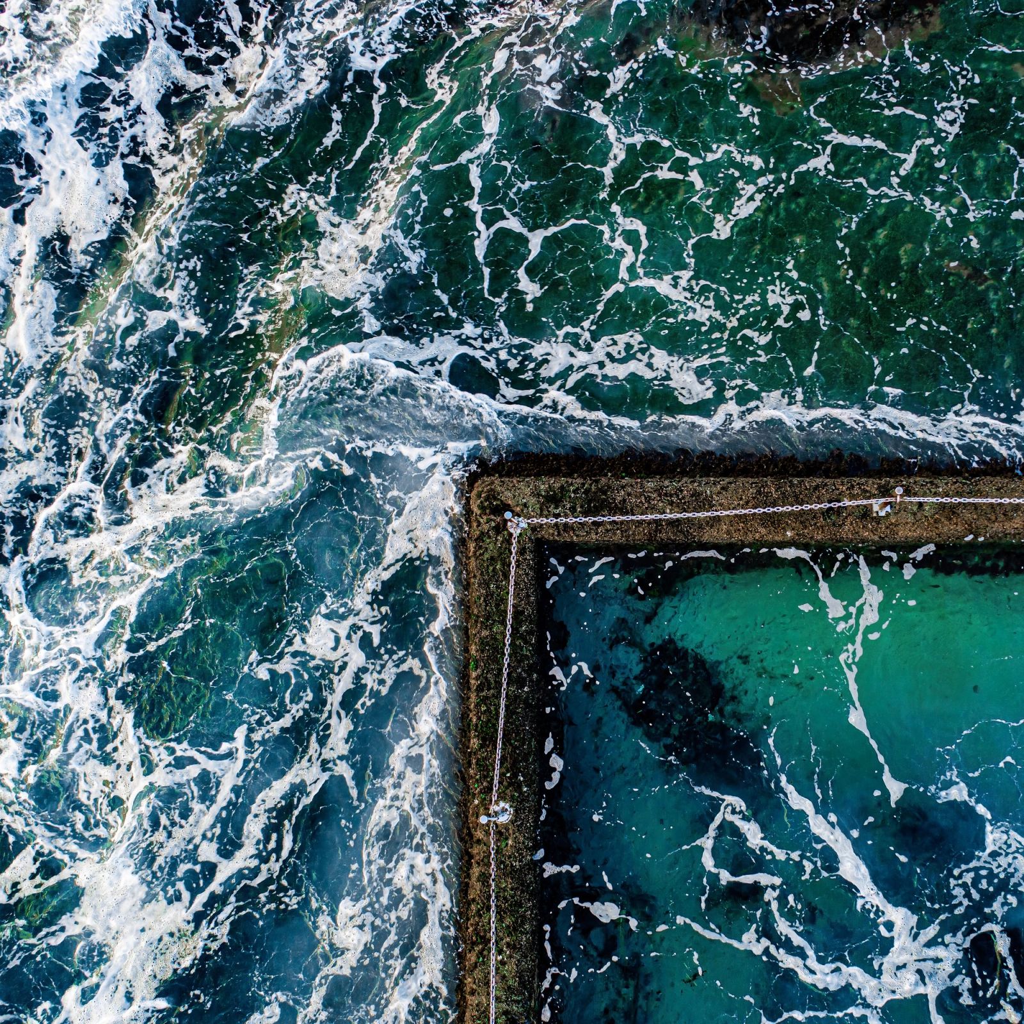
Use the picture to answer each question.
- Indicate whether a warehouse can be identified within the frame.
No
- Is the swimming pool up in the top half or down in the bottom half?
bottom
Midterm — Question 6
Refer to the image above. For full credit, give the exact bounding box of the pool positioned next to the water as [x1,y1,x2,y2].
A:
[538,544,1024,1024]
